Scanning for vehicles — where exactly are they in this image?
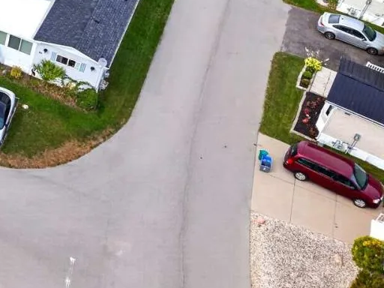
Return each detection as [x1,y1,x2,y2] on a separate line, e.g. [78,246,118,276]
[0,81,21,144]
[317,8,384,54]
[287,140,384,211]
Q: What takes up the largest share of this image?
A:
paved ground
